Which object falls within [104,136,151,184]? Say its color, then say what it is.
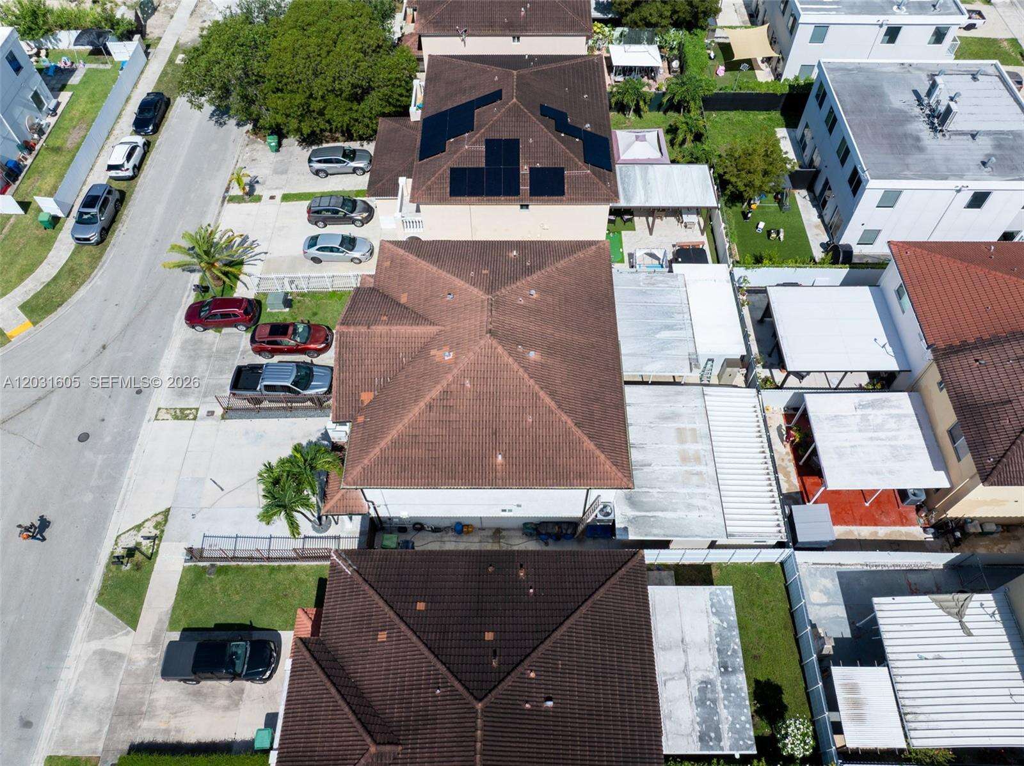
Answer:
white car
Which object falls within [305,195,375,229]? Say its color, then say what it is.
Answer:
gray car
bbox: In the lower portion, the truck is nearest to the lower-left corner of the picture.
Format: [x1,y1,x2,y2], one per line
[160,631,283,684]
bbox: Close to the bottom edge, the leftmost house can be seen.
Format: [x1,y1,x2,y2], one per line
[273,547,665,766]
